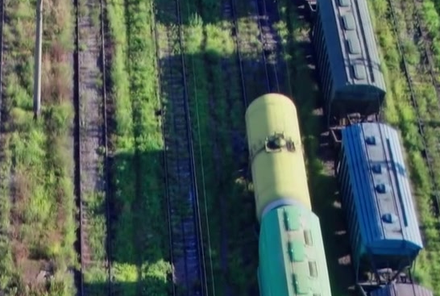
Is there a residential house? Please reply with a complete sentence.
No, the frame has no residential house in it.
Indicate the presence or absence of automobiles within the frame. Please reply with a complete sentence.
No, the picture doesn't show any automobile.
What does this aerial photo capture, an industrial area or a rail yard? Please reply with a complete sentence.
The area seen from above is a rail yard.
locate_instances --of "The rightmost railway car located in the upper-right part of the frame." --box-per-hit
[312,0,389,158]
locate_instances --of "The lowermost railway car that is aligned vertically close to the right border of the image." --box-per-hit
[335,122,422,296]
